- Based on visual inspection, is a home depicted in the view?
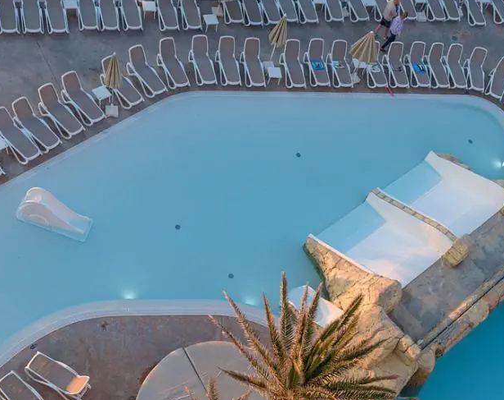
No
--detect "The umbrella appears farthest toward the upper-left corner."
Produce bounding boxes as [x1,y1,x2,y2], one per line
[101,51,123,118]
